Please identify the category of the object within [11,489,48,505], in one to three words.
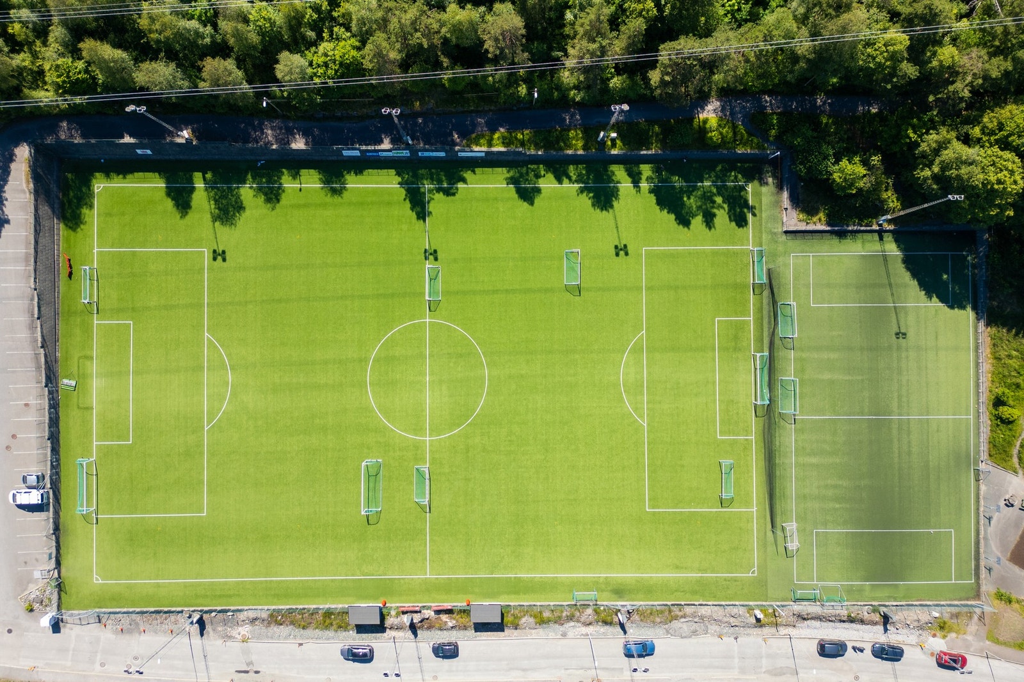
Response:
vehicle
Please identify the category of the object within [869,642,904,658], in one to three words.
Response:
car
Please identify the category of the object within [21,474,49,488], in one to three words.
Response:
car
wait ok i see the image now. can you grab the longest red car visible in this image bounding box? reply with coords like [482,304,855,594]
[934,649,967,668]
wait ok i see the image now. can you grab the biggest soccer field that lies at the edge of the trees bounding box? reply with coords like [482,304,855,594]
[57,156,767,610]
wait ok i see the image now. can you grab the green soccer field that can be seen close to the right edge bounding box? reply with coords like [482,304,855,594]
[762,157,982,605]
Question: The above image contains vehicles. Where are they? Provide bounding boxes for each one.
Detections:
[815,639,847,656]
[934,649,967,668]
[432,642,460,657]
[341,643,374,659]
[622,639,654,656]
[11,489,48,505]
[852,646,867,653]
[869,642,904,658]
[21,474,49,488]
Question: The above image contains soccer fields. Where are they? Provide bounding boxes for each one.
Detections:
[762,157,982,605]
[57,156,767,610]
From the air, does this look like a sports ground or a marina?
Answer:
sports ground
